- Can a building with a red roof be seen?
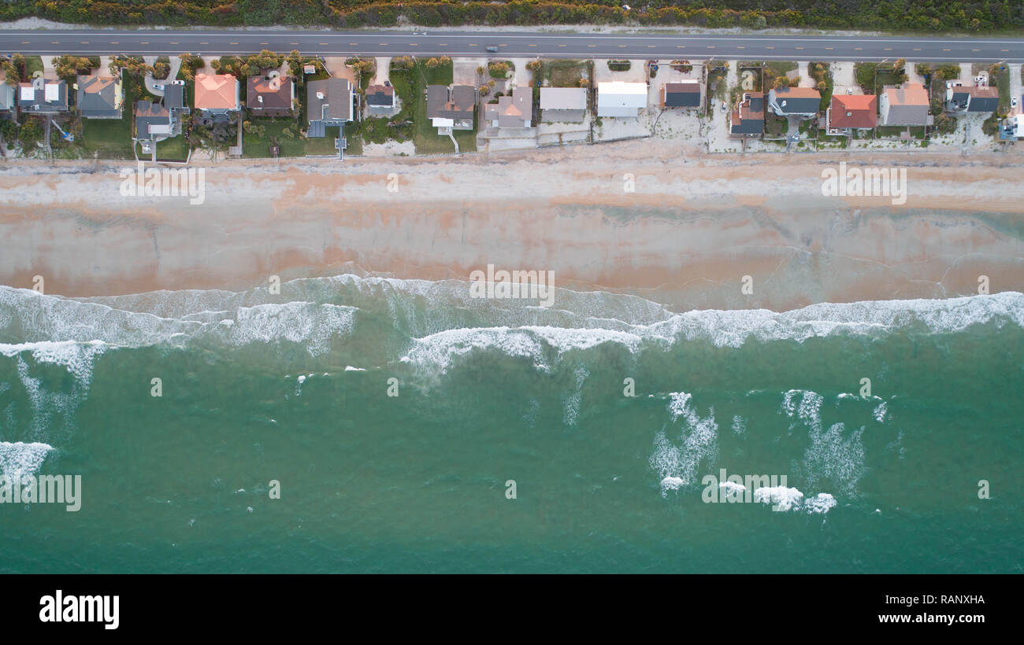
Yes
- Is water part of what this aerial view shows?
Yes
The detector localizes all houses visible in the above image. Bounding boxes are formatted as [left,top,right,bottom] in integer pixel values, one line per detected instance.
[1009,94,1024,145]
[485,86,533,128]
[540,87,586,110]
[306,76,352,138]
[426,83,475,128]
[665,83,702,109]
[598,82,648,117]
[730,91,766,135]
[77,73,123,118]
[828,95,876,129]
[366,84,393,106]
[16,80,73,113]
[135,84,185,139]
[881,82,933,128]
[195,73,239,114]
[247,74,293,113]
[946,85,1002,114]
[766,87,824,116]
